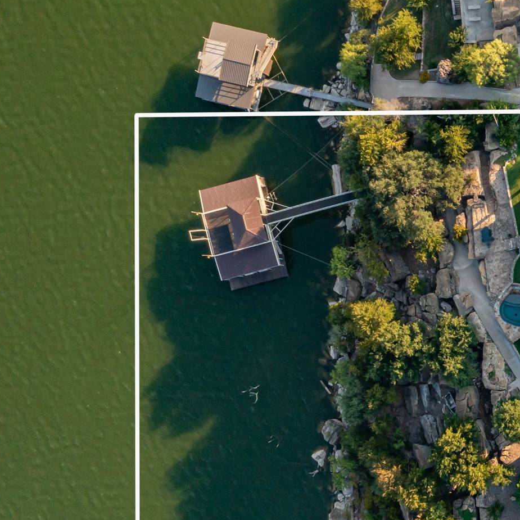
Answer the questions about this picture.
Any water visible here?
Yes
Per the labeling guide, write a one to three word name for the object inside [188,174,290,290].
pier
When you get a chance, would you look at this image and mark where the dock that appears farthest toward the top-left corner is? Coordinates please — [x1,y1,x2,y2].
[193,23,278,112]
